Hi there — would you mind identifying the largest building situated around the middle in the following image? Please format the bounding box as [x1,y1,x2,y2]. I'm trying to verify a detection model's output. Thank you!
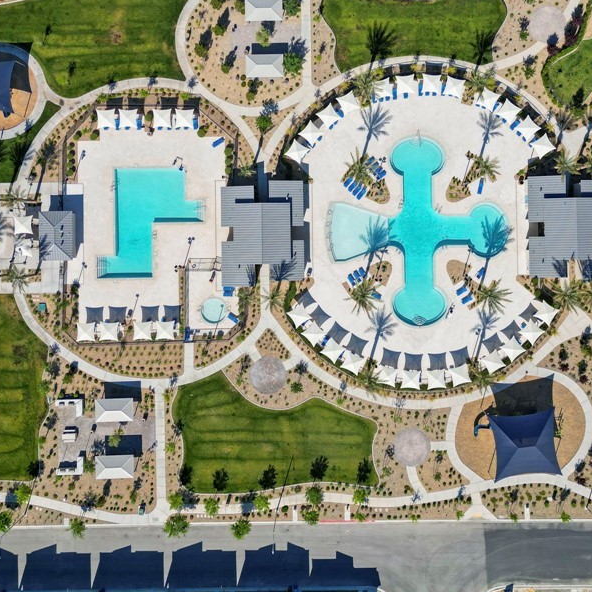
[221,181,304,286]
